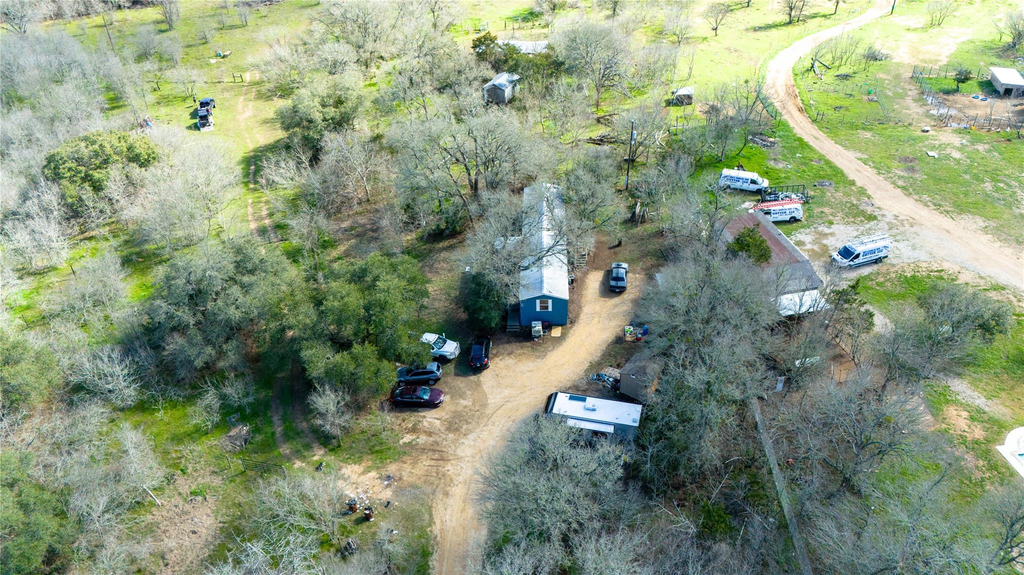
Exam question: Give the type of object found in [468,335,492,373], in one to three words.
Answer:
car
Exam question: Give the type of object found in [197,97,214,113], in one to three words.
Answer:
vehicle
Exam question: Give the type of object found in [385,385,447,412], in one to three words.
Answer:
car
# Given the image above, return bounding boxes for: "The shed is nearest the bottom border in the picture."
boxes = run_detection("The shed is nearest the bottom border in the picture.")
[619,350,681,409]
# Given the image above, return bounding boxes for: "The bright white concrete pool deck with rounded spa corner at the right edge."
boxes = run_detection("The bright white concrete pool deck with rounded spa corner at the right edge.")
[996,424,1024,471]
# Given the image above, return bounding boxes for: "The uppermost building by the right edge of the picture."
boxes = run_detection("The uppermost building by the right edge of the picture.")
[983,67,1024,101]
